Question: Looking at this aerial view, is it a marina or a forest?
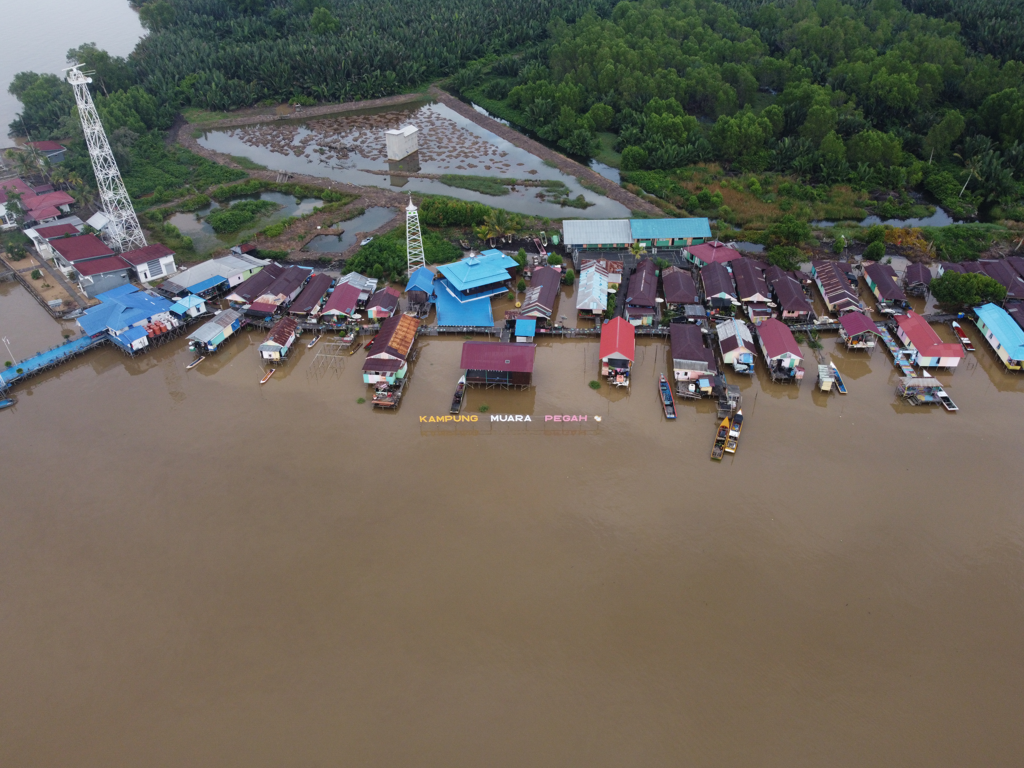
marina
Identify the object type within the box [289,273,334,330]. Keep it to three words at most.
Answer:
house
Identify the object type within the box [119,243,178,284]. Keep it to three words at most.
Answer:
building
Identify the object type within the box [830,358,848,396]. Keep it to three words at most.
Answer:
boat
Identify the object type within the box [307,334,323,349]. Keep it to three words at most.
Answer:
boat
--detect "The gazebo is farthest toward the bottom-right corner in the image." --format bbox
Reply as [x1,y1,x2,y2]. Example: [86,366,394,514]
[897,376,943,407]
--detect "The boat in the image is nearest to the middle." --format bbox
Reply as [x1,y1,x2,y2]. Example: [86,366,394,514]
[449,372,466,416]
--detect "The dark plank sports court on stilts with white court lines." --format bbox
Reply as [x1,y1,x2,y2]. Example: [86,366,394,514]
[573,250,689,320]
